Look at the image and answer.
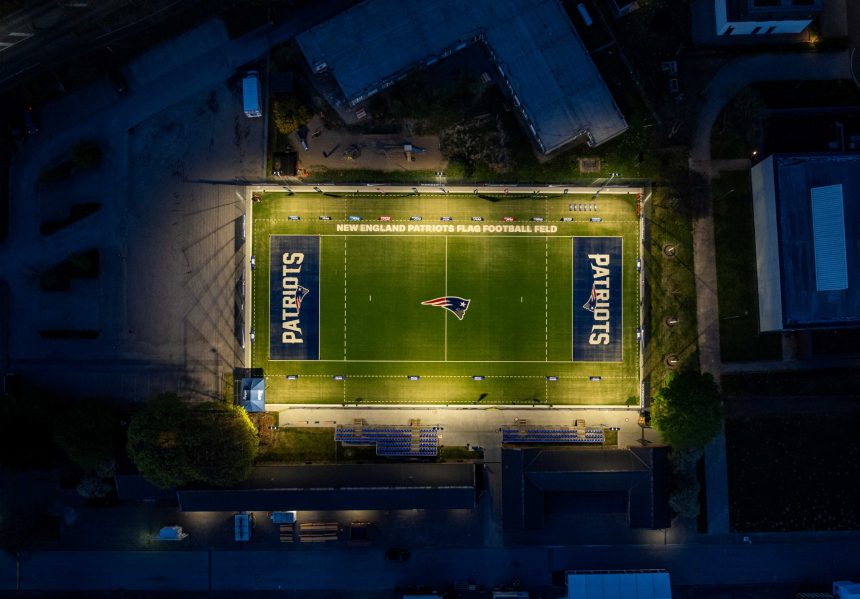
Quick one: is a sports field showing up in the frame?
Yes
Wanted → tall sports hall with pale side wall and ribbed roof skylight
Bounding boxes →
[751,150,860,332]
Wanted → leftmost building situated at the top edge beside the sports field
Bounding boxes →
[295,0,629,160]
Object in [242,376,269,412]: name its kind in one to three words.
tent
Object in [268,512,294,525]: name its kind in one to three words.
vehicle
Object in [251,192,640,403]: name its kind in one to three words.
sports field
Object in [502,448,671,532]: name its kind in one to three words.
building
